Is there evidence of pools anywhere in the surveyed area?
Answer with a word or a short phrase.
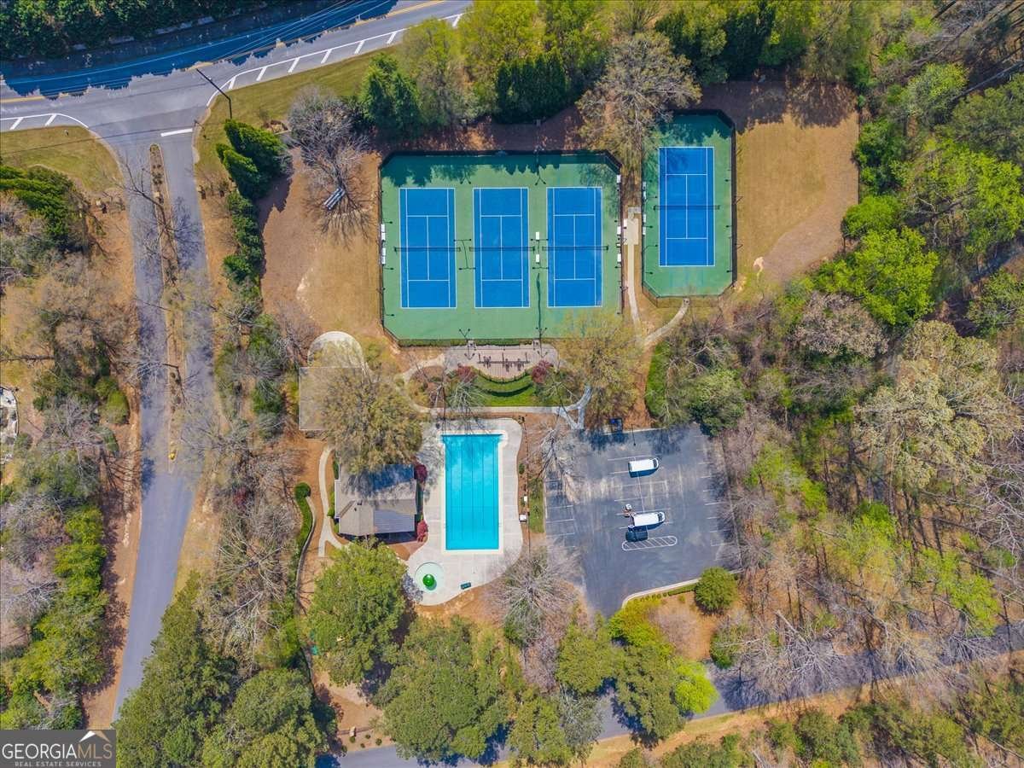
Yes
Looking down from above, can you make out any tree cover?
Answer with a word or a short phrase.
Yes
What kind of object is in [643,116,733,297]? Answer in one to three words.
tennis court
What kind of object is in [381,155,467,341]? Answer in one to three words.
tennis court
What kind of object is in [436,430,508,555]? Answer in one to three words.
swimming pool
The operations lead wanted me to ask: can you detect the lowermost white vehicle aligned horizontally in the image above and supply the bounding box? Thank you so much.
[631,514,665,532]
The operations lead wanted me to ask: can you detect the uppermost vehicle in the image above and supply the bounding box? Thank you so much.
[629,459,660,473]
